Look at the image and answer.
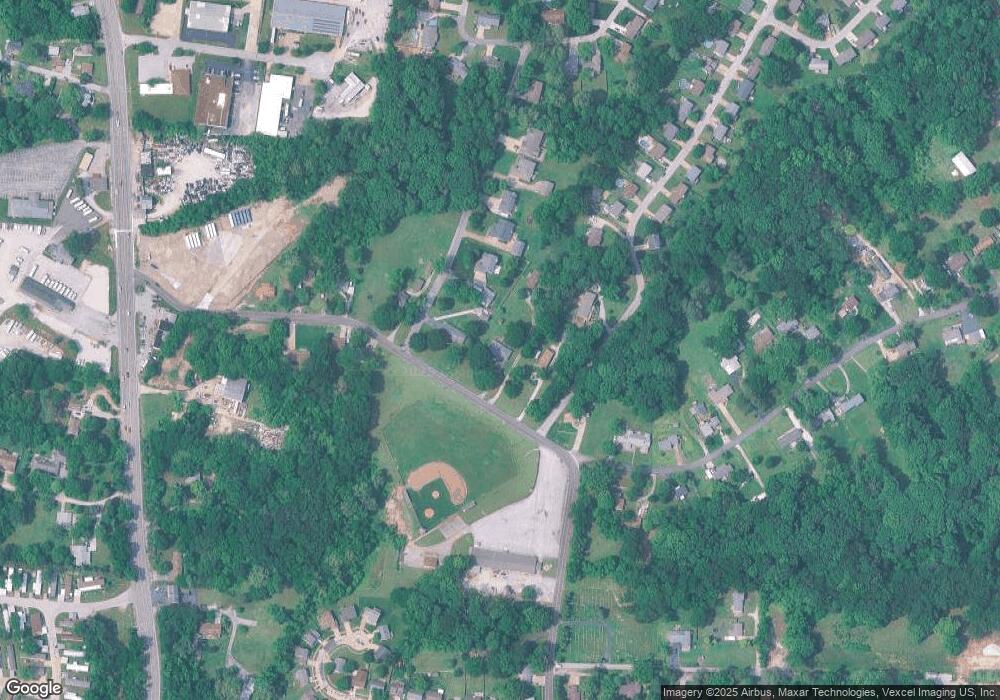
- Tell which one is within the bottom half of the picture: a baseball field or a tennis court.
baseball field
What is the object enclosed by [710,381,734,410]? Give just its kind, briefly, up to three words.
house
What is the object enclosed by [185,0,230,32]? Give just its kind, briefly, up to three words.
building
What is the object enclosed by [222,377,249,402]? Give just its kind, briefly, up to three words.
building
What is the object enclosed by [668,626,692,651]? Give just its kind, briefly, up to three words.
house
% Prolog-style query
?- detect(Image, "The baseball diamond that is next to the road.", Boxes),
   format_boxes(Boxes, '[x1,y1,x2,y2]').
[385,400,517,533]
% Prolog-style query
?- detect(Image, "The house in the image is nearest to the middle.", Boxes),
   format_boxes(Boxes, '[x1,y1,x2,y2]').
[488,338,514,364]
